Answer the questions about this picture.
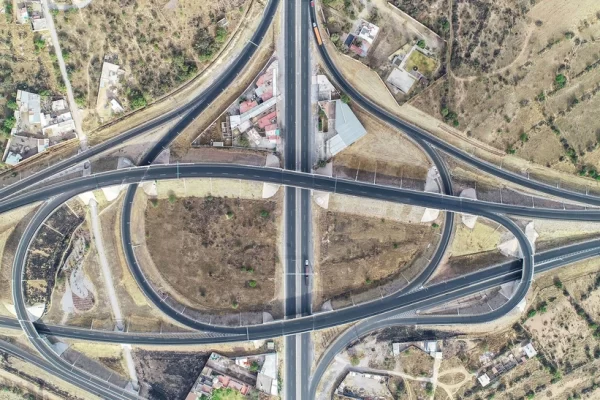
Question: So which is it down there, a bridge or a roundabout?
bridge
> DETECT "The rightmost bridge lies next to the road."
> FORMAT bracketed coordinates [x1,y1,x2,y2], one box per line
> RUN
[497,221,538,297]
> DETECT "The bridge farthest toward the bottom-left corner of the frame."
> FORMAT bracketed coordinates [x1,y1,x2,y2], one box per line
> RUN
[3,303,69,354]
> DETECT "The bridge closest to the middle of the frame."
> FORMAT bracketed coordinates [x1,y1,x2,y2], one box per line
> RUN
[263,154,332,209]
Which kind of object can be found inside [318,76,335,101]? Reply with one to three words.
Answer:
house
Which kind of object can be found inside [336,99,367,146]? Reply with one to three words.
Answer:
building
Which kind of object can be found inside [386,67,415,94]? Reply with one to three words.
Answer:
house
